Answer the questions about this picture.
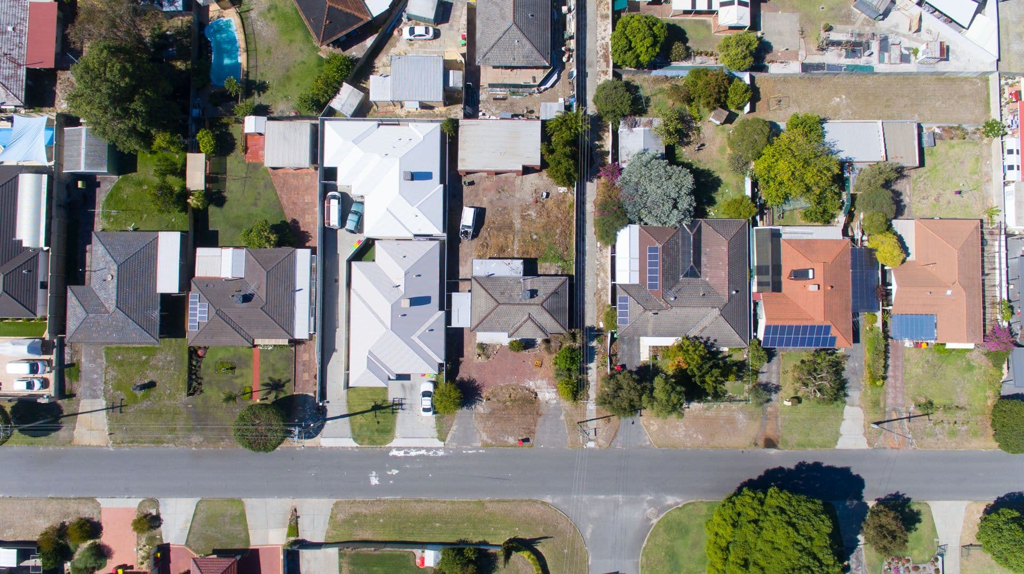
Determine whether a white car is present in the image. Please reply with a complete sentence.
Yes, the frame does contain a white car.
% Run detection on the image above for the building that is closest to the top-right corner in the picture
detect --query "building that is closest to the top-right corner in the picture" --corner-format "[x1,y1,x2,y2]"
[904,0,979,33]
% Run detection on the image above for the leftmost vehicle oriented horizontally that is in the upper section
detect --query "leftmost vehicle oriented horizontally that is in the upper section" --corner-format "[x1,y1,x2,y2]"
[402,25,435,41]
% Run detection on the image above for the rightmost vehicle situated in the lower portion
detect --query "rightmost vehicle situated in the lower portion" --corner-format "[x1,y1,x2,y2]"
[419,381,434,415]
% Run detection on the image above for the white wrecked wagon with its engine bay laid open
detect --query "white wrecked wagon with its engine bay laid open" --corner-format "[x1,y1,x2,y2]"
[460,205,477,239]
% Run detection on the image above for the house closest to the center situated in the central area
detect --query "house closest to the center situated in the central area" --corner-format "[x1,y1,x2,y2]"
[451,259,569,345]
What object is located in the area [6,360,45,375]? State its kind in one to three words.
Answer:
vehicle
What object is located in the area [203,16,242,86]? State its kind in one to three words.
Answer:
swimming pool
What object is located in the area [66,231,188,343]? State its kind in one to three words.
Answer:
house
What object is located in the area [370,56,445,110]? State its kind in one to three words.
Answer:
building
